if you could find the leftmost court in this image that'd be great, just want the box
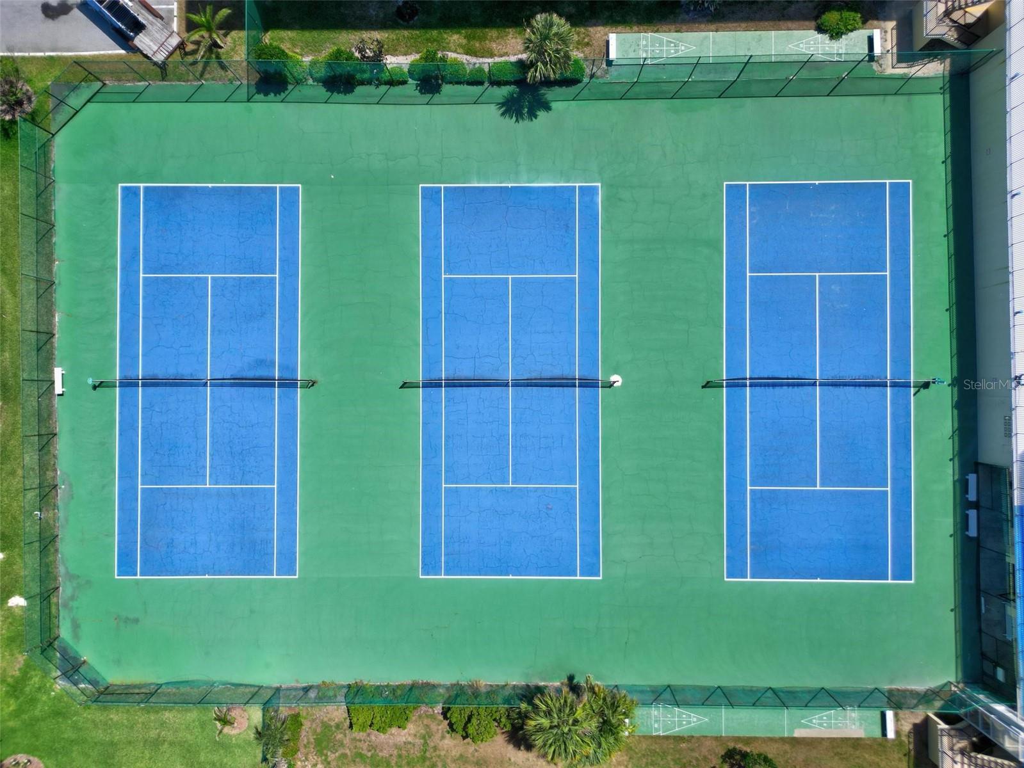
[115,184,301,578]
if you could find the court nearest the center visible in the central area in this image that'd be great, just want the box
[420,183,602,579]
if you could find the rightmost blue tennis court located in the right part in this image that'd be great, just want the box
[724,180,914,583]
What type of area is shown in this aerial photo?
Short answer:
sports ground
